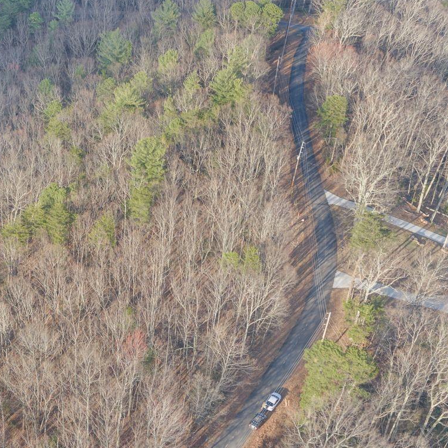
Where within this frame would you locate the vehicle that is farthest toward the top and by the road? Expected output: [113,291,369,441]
[263,391,279,410]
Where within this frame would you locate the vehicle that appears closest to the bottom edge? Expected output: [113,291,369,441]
[249,411,266,429]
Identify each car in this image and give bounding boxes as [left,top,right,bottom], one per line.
[249,411,266,429]
[263,391,279,410]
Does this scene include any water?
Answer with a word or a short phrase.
No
